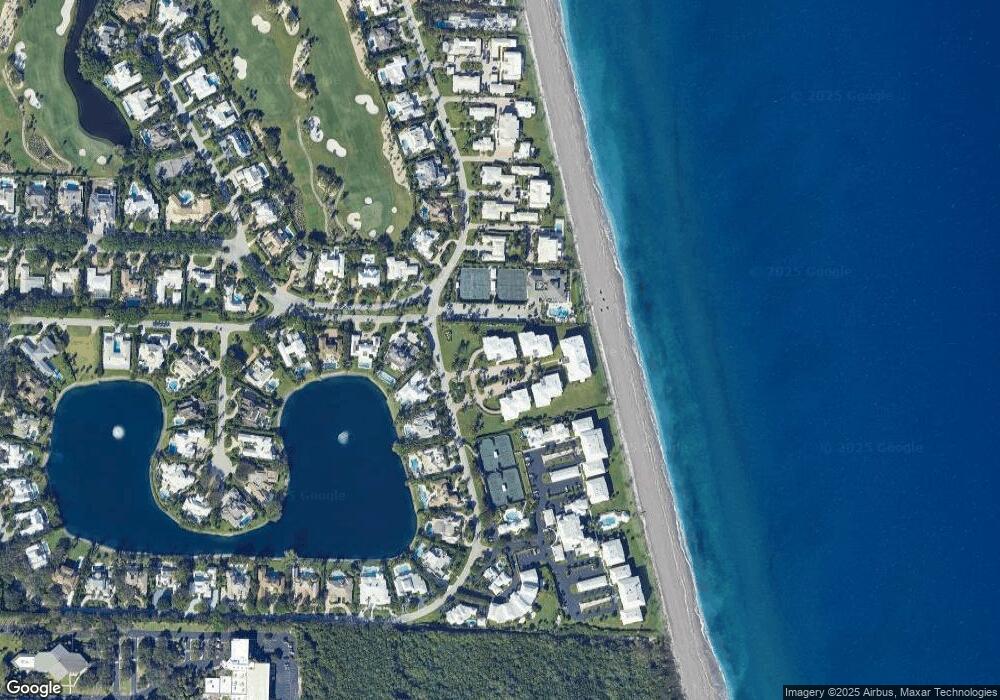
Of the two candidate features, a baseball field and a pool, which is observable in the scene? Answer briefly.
pool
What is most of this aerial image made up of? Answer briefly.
water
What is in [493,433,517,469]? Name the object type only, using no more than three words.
tennis court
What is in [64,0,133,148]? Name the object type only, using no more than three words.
pond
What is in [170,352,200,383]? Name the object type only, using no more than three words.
house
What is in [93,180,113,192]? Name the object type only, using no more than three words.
swimming pool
